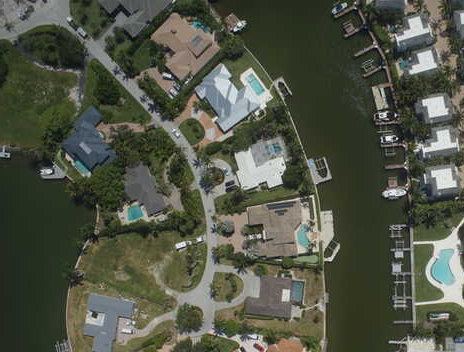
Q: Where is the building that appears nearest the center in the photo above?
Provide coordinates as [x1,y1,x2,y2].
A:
[234,148,284,190]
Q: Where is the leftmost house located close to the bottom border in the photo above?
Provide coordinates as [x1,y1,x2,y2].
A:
[84,294,136,352]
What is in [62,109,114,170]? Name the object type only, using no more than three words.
house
